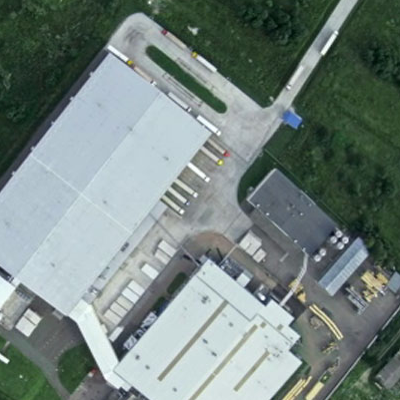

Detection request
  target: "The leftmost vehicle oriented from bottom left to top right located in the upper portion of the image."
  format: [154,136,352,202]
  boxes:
[286,64,305,90]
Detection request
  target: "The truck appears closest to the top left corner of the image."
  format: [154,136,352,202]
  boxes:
[109,44,134,67]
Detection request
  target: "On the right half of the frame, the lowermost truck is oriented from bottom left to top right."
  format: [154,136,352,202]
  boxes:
[305,376,328,400]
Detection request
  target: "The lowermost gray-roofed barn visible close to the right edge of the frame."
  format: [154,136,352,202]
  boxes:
[376,358,400,388]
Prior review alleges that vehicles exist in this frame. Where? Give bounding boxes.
[174,178,200,199]
[200,145,225,166]
[167,91,192,113]
[196,114,223,137]
[109,44,134,67]
[326,340,338,352]
[186,162,211,184]
[319,30,340,55]
[161,28,188,51]
[305,376,328,400]
[191,51,218,73]
[286,64,305,90]
[168,186,192,207]
[206,137,230,158]
[161,195,185,215]
[132,64,156,86]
